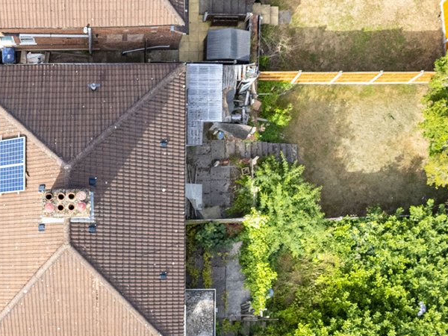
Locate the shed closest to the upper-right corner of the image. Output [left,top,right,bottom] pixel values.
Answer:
[203,27,251,70]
